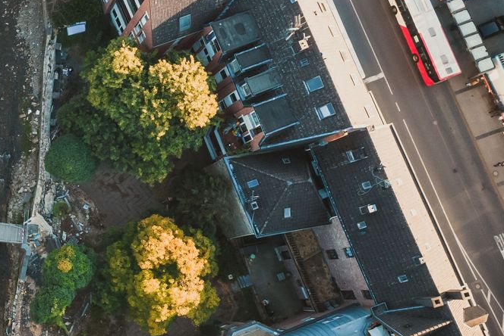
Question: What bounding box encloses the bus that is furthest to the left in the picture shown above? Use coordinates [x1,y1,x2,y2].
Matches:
[391,0,459,84]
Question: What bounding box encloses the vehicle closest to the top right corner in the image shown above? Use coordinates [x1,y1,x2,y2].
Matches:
[474,15,504,39]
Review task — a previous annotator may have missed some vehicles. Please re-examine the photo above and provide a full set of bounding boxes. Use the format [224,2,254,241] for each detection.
[391,0,459,84]
[474,15,504,39]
